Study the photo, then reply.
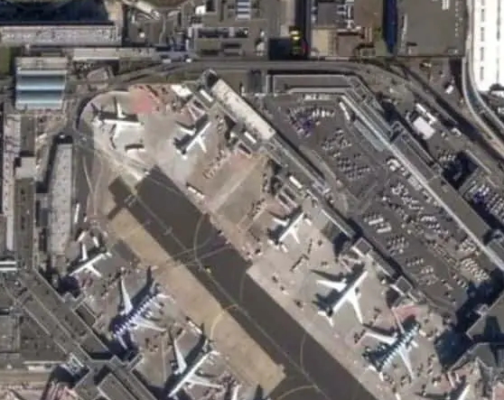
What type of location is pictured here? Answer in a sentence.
The picture captures an airport.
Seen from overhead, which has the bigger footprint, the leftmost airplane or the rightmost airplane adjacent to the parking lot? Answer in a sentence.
The rightmost airplane adjacent to the parking lot is larger than the leftmost airplane.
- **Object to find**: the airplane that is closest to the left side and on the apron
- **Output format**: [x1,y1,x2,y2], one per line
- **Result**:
[68,248,110,278]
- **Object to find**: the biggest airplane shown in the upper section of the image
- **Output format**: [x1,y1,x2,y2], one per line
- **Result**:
[93,101,144,144]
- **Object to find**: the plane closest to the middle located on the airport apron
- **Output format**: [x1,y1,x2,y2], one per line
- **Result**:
[271,213,304,247]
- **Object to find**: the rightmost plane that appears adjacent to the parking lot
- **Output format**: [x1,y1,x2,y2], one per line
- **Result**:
[366,325,418,379]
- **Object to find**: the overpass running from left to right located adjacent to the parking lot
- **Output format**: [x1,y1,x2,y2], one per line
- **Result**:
[66,57,374,101]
